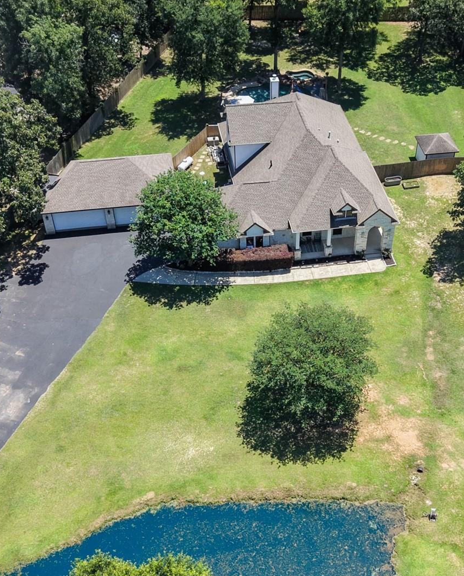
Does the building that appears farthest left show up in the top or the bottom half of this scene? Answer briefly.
top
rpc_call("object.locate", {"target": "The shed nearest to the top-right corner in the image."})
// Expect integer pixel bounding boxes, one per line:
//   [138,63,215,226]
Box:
[413,130,460,167]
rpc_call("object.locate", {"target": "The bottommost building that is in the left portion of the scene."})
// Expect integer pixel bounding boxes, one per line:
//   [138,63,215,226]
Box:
[42,153,176,233]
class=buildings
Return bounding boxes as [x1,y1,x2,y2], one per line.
[42,153,176,233]
[413,130,460,167]
[203,70,403,259]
